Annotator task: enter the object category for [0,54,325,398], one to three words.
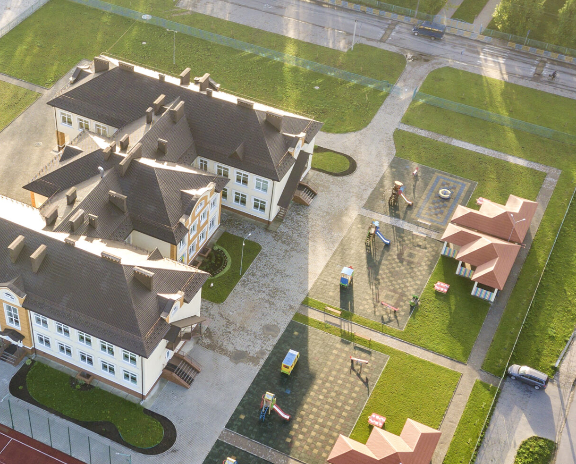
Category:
building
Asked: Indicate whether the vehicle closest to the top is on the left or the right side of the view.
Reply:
right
